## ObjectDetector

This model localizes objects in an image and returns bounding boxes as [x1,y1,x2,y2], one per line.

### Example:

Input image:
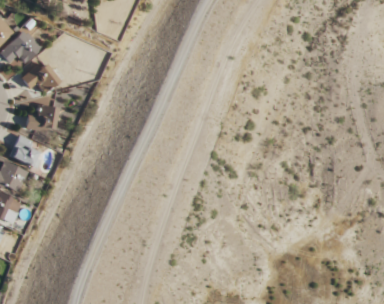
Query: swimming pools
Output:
[19,208,32,221]
[43,149,56,173]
